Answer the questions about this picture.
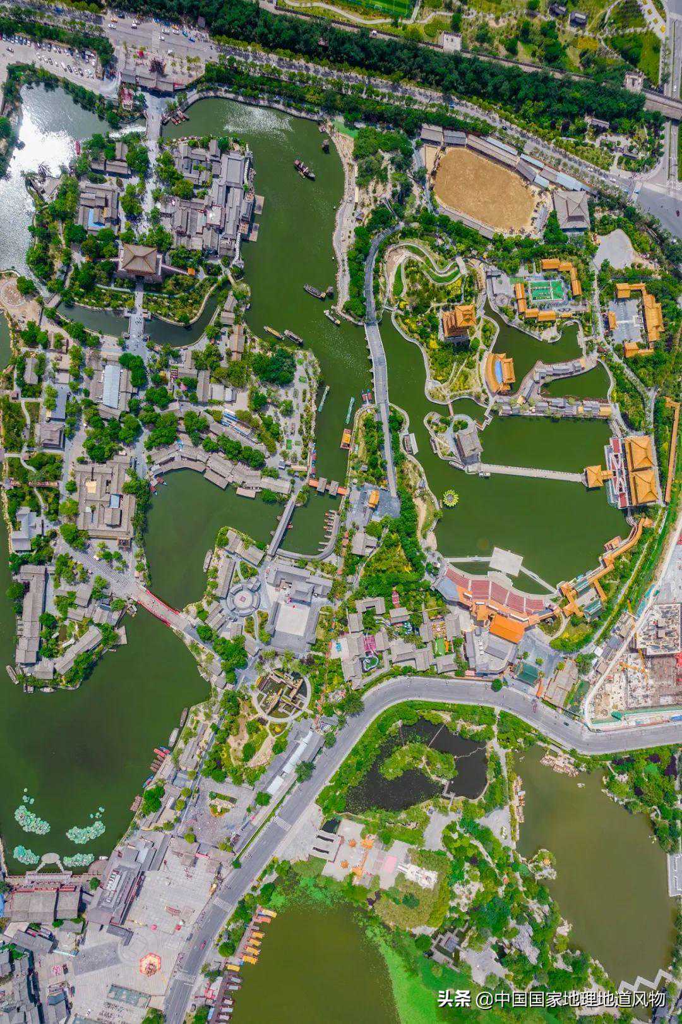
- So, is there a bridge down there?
Yes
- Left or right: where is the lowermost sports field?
right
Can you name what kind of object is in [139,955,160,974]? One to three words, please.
fountain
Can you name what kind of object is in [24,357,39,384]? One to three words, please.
house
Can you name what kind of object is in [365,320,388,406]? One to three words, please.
bridge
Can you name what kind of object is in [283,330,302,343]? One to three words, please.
boat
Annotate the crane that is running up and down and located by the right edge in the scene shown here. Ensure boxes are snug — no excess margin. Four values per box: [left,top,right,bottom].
[617,596,649,689]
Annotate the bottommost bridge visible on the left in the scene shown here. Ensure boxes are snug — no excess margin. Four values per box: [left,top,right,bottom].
[135,585,181,626]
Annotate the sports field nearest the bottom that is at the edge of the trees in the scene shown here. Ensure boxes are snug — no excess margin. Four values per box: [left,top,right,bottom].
[431,145,537,233]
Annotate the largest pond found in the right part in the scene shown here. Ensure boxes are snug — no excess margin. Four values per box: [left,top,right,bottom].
[344,718,487,814]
